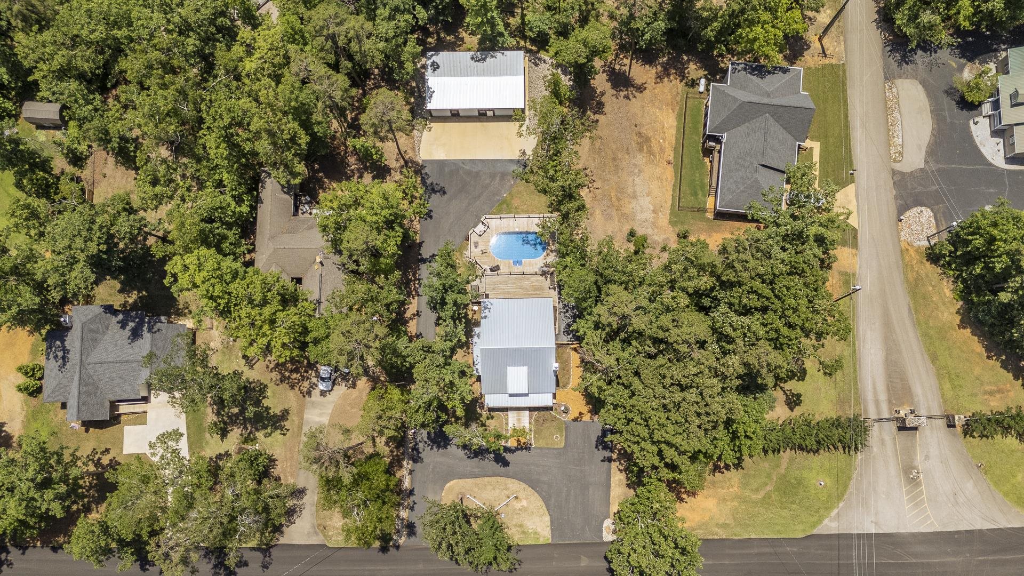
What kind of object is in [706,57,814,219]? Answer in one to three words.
house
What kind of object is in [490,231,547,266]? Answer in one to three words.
swimming pool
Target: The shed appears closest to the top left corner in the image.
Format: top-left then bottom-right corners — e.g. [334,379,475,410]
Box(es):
[23,107,71,130]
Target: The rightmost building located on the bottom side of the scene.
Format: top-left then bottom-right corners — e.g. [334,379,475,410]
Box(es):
[473,297,559,408]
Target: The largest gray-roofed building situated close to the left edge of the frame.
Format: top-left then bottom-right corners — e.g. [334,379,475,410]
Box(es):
[43,305,191,421]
